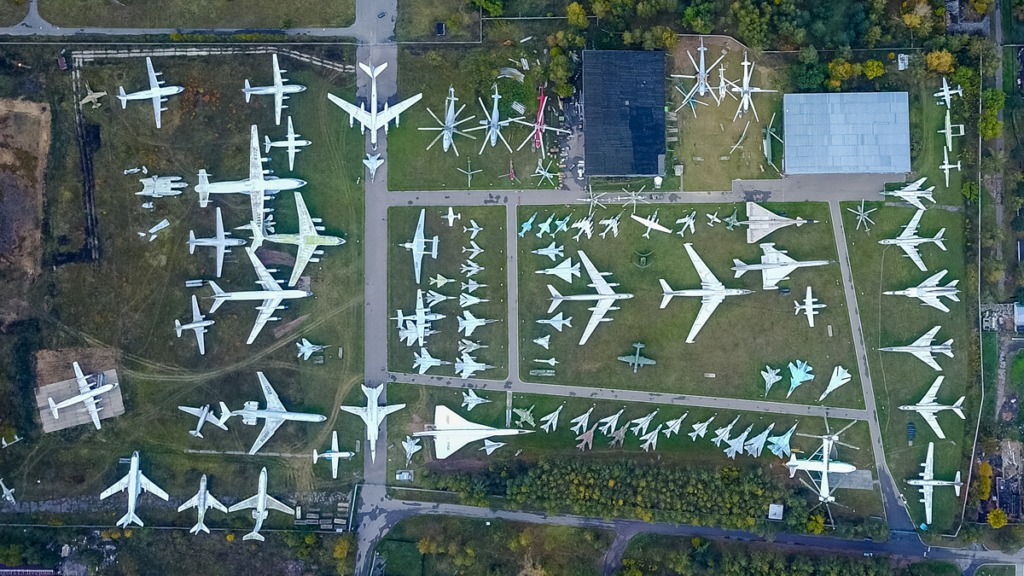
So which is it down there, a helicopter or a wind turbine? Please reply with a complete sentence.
I can see a helicopter in this picture.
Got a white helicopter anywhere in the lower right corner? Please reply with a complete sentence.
Yes, the scene does show a white helicopter in the lower right corner.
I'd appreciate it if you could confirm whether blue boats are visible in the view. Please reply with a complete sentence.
No, the scene contains no blue boat.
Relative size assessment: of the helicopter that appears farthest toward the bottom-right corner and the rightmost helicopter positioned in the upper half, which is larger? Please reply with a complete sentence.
The larger object is the helicopter that appears farthest toward the bottom-right corner, with the rightmost helicopter positioned in the upper half being the smaller of the pair.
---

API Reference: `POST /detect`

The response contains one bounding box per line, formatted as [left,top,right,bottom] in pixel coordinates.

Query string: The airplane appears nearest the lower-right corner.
[905,442,966,524]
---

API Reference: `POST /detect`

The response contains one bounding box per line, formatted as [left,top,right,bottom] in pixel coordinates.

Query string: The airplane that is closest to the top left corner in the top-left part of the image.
[78,86,108,110]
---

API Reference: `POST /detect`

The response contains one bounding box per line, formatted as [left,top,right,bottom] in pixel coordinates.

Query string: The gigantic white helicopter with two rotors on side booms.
[786,412,859,528]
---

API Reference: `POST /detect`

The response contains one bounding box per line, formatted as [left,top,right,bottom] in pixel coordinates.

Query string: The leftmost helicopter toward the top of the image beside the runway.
[418,80,476,156]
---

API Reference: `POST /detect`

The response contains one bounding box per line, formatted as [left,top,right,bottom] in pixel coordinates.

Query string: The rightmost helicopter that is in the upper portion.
[847,199,877,238]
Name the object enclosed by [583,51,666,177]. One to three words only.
hangar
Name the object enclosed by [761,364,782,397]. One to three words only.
airplane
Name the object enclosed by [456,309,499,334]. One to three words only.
airplane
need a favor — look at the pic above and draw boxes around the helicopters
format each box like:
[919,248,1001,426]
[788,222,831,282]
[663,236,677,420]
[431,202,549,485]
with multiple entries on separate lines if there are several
[847,199,877,238]
[418,80,476,156]
[498,158,521,183]
[532,157,554,185]
[577,185,614,215]
[709,59,740,104]
[463,77,525,154]
[724,44,778,122]
[762,113,785,177]
[730,121,749,154]
[613,186,650,213]
[671,36,725,106]
[508,85,571,158]
[786,412,859,528]
[457,155,482,187]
